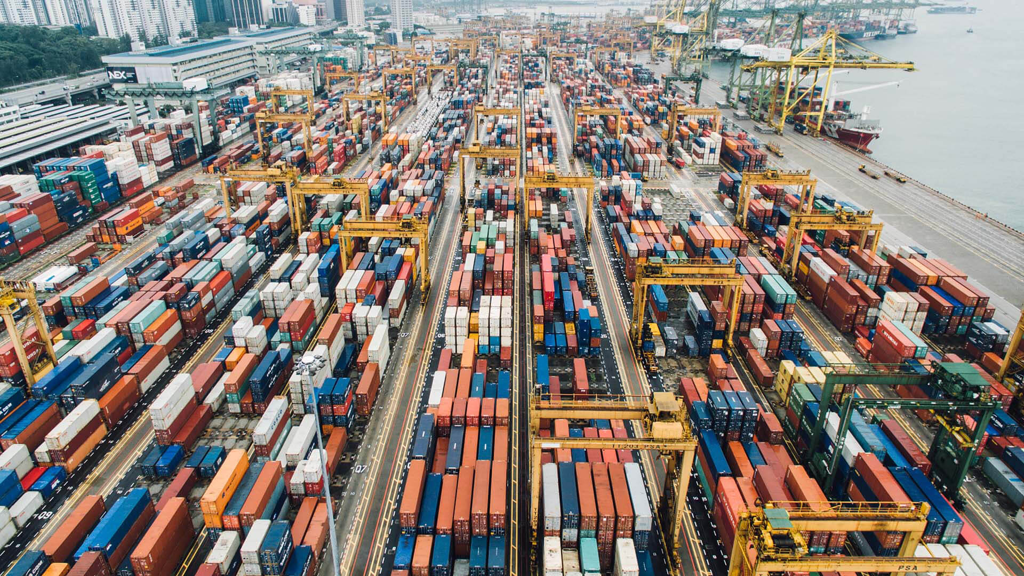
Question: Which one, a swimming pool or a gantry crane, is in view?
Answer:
gantry crane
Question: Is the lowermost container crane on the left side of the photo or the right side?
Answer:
right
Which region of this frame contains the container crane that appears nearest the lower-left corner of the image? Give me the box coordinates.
[0,272,67,372]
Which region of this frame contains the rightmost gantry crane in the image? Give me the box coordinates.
[998,319,1024,424]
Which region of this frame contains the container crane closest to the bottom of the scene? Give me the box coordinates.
[715,498,958,576]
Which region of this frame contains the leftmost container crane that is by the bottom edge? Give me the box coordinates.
[526,389,692,553]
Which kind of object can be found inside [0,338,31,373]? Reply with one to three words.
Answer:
shipping container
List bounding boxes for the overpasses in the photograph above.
[0,56,107,107]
